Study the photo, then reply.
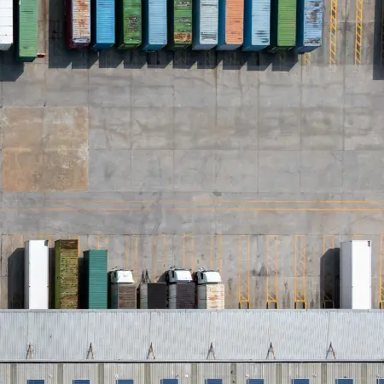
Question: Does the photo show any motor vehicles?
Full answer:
Yes, I can see a motor vehicle in this picture.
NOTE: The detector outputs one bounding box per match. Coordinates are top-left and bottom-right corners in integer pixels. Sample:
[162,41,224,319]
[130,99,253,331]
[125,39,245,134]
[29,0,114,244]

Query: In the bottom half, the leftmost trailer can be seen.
[21,240,48,309]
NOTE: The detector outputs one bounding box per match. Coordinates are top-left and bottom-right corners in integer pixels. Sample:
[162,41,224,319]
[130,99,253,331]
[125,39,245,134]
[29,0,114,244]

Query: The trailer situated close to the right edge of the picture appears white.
[335,240,372,309]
